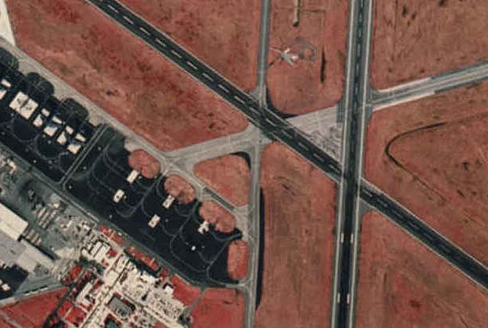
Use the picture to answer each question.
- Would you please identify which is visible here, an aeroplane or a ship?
aeroplane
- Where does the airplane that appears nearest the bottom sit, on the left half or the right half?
left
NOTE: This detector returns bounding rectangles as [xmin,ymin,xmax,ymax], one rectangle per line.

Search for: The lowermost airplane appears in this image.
[62,125,85,152]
